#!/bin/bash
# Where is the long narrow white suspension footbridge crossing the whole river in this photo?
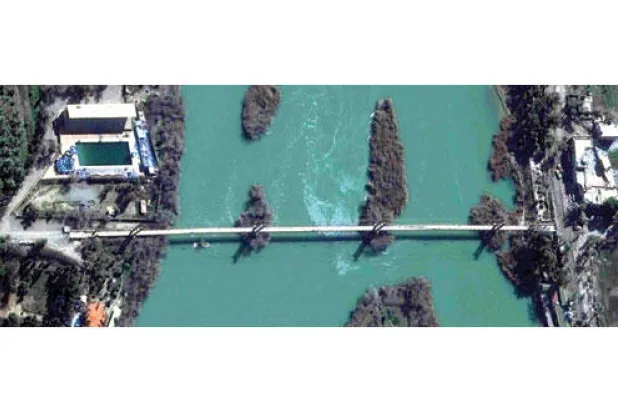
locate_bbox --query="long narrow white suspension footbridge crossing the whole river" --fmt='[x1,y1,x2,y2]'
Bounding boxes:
[70,217,557,239]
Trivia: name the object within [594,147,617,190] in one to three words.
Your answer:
building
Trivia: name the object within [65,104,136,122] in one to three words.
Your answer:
building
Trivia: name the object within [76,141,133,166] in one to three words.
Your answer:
swimming pool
